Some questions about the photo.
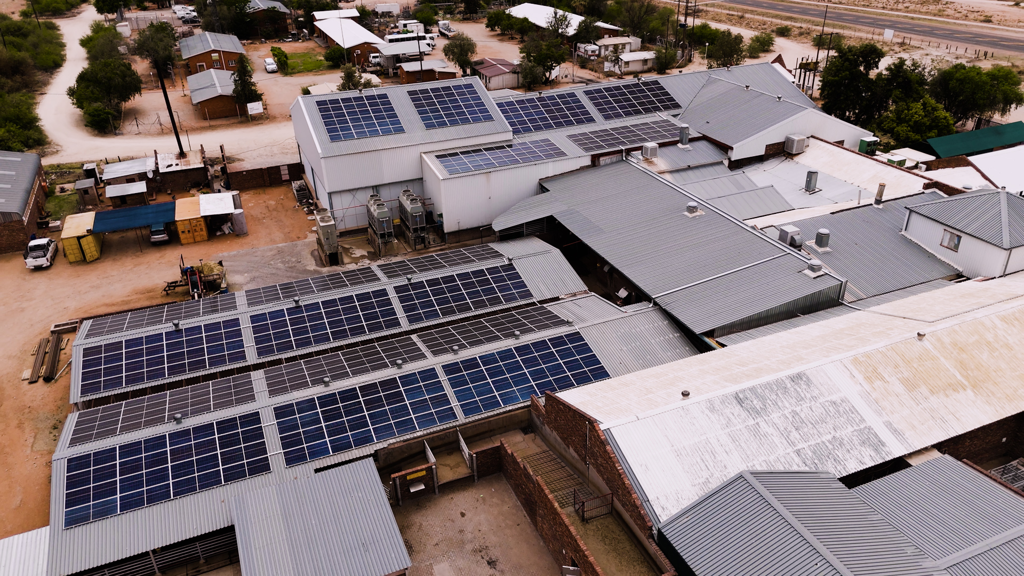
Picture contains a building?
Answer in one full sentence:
Yes, a building appears in the view.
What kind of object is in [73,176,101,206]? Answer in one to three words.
shed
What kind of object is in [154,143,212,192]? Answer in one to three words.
house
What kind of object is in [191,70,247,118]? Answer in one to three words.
house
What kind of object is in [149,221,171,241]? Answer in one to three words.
car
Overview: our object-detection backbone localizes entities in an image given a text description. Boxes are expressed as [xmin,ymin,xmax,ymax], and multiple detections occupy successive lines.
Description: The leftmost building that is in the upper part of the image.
[0,152,52,255]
